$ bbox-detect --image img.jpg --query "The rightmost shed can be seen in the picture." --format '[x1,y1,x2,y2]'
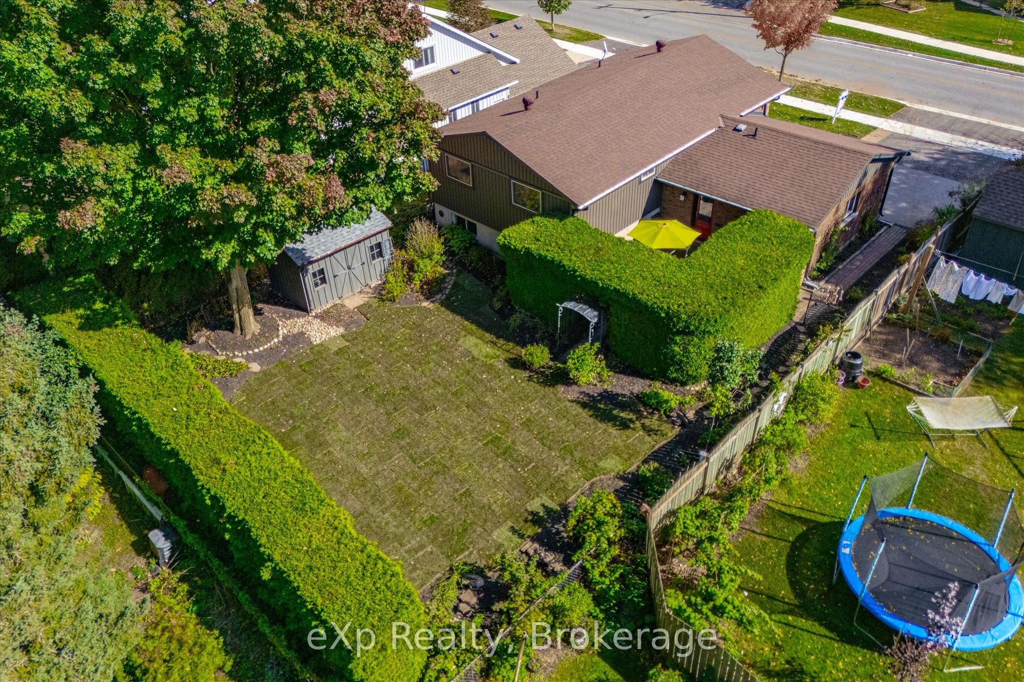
[961,157,1024,288]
